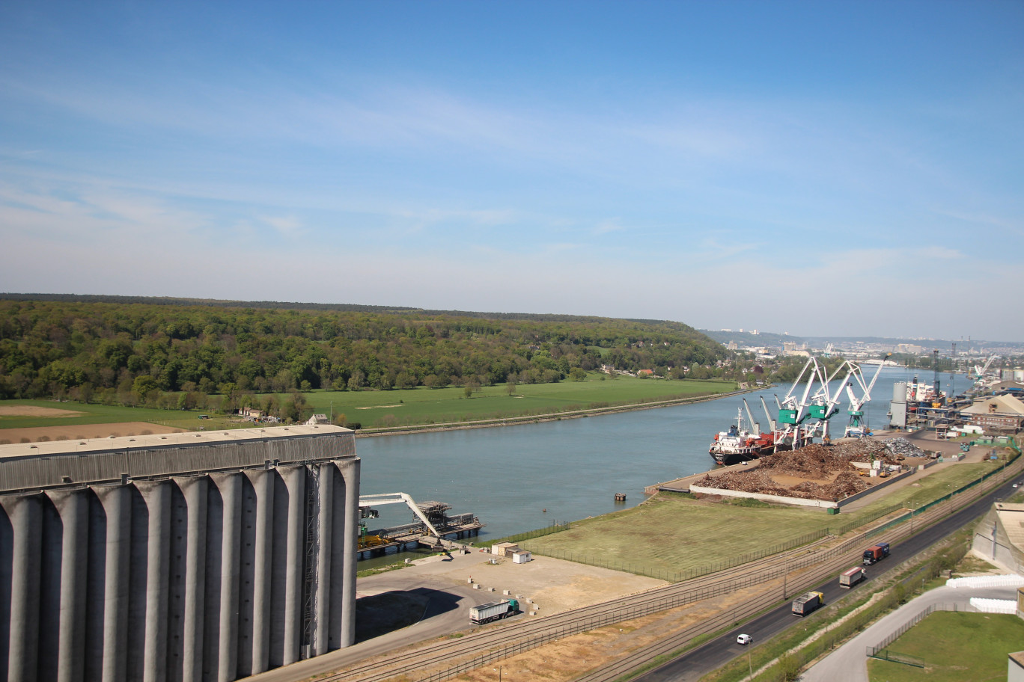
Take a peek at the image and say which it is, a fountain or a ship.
ship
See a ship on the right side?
Yes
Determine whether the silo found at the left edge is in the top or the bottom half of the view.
bottom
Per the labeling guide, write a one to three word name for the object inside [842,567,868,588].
truck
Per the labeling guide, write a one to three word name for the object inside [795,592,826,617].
truck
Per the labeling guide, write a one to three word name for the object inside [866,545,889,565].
vehicle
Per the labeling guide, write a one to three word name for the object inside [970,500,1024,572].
hangar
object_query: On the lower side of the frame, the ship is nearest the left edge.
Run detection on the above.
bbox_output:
[710,395,808,466]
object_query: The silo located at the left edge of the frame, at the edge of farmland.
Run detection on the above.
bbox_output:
[0,421,360,682]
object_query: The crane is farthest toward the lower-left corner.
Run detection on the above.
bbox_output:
[357,491,443,555]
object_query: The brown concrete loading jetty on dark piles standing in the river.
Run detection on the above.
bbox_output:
[357,523,489,564]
